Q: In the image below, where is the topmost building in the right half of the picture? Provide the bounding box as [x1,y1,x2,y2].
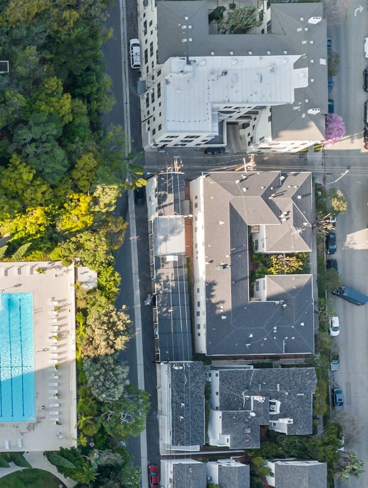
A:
[136,0,328,155]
